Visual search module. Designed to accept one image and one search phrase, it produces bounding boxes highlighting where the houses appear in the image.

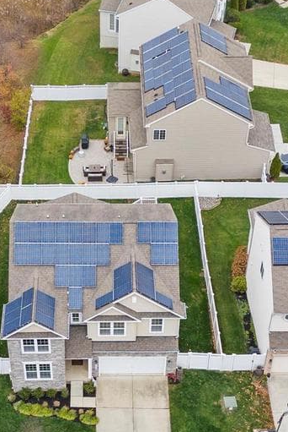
[107,20,277,184]
[249,195,288,374]
[0,184,185,390]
